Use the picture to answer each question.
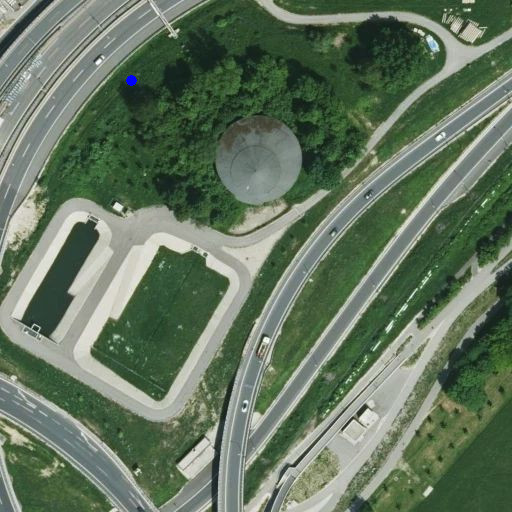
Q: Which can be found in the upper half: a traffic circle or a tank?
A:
tank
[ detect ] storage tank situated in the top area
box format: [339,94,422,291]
[216,116,302,204]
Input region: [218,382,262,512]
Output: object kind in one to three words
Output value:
overpass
